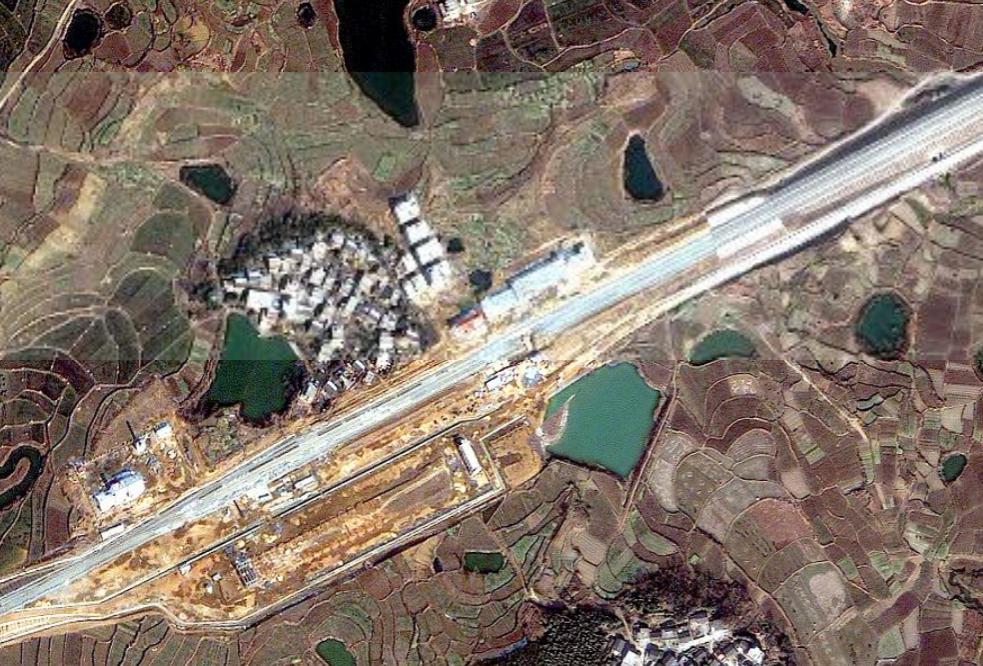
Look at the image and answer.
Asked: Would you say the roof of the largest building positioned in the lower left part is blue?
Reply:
No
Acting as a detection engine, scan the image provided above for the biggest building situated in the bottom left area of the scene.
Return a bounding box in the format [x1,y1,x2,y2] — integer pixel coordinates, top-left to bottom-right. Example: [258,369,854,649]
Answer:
[93,475,142,511]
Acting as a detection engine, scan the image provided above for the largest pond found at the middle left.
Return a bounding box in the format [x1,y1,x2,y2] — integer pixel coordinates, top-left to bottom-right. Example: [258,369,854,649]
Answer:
[207,313,304,420]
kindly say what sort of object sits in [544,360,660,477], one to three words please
pond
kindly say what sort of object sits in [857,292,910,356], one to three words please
pond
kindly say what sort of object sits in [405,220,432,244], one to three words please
house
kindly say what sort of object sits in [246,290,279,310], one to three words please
building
